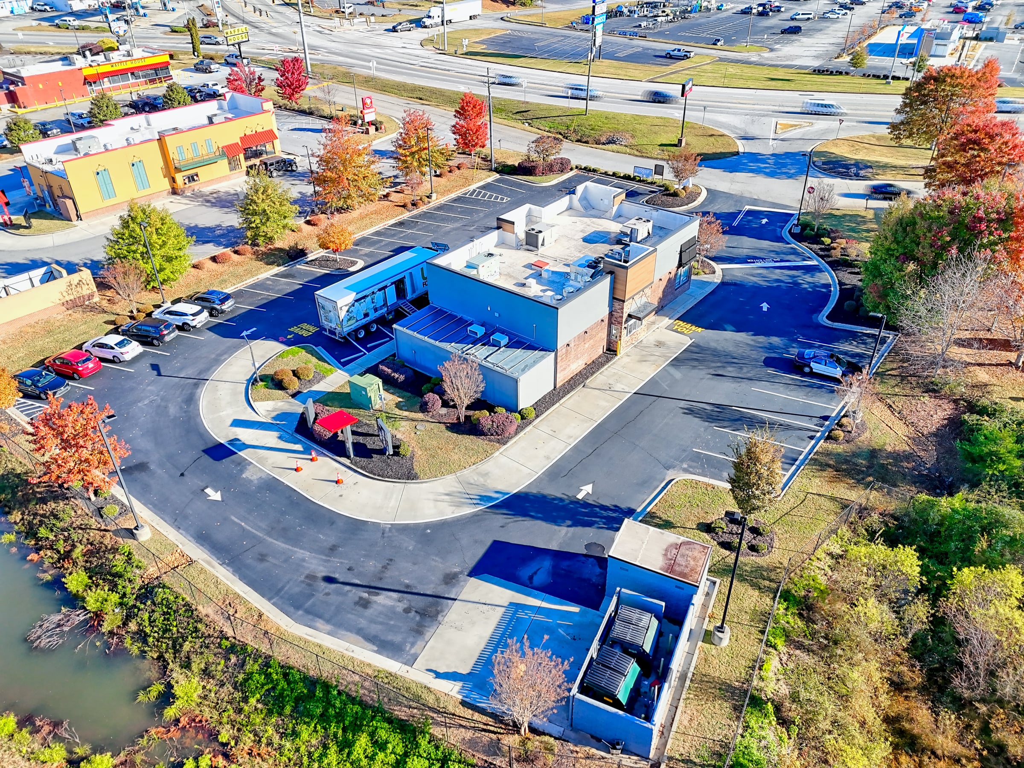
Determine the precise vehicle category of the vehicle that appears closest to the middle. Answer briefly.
truck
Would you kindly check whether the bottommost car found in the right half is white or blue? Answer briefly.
blue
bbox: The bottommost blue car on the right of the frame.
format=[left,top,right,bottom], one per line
[794,347,865,381]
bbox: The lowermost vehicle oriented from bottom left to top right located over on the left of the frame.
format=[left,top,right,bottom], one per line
[314,244,447,344]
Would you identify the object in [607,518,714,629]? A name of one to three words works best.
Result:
shed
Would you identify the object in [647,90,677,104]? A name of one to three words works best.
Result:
car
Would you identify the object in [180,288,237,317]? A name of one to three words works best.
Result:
car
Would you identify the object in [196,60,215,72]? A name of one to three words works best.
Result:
vehicle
